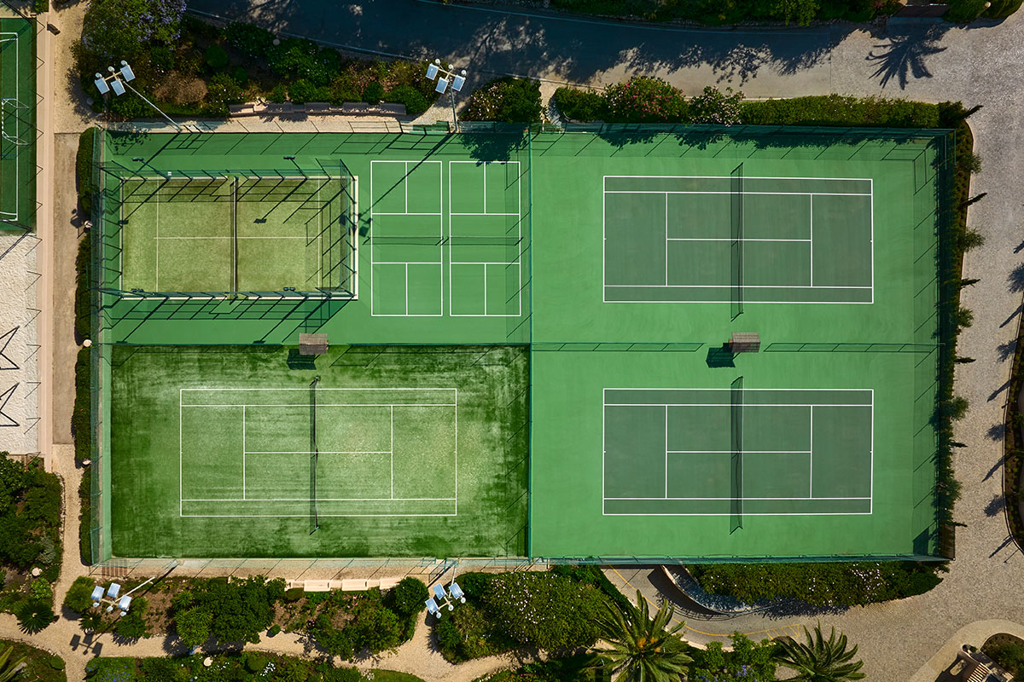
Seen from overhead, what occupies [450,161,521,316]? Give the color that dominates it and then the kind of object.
green sports court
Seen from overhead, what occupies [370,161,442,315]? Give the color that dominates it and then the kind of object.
green sports court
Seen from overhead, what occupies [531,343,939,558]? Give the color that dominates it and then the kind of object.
green tennis court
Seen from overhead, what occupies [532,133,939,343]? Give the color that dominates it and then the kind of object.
green tennis court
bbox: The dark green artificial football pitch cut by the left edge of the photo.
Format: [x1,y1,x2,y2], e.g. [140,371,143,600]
[0,17,36,232]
